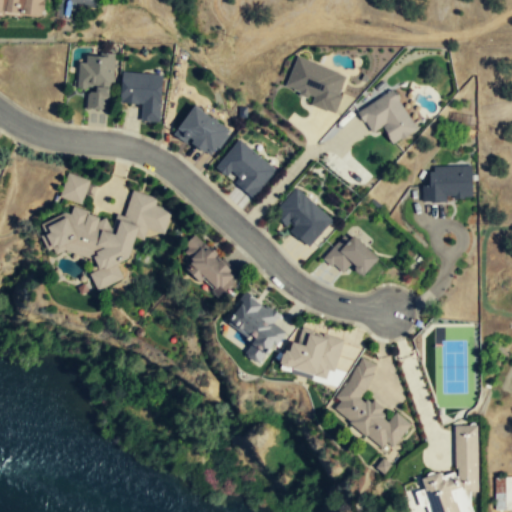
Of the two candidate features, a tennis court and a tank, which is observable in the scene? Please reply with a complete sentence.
I can see a tennis court in this picture.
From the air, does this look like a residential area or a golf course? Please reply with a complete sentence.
The area seen from above is a residential area.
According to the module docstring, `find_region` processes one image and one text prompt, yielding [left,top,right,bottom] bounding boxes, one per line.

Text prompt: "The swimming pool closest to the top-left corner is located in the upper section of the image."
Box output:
[72,47,93,72]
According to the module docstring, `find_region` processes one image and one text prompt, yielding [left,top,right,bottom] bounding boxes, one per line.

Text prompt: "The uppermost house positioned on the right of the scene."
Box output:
[289,56,346,112]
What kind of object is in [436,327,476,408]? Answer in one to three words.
tennis court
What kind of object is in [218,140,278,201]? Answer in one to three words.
house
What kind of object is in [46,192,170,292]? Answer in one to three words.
house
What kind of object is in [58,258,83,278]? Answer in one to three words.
swimming pool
